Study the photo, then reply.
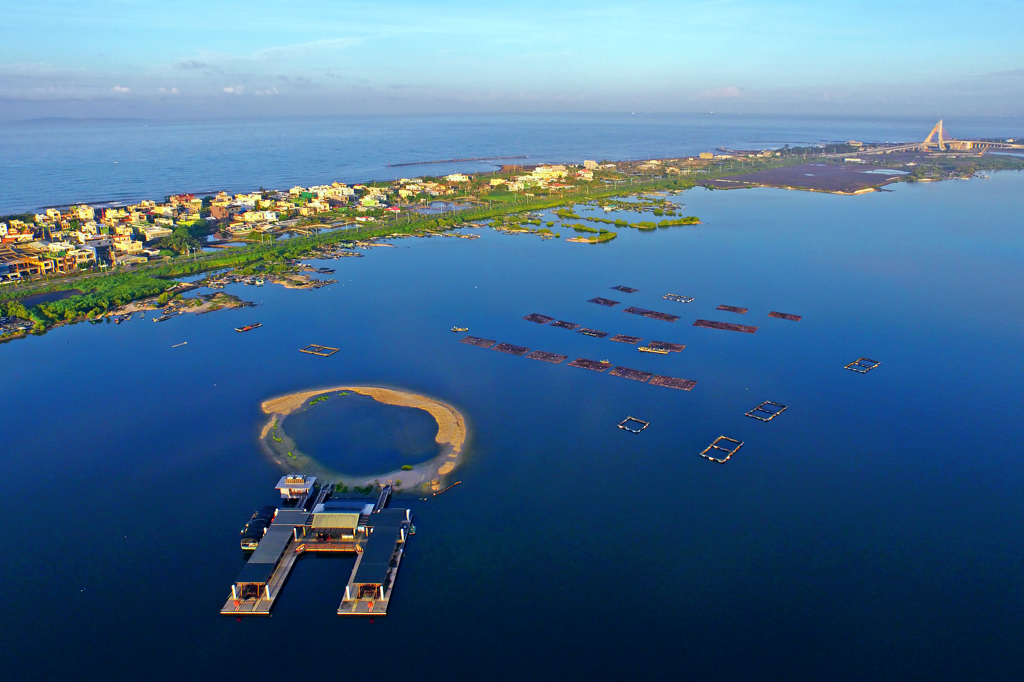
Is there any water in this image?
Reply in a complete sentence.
Yes, there is water in the image.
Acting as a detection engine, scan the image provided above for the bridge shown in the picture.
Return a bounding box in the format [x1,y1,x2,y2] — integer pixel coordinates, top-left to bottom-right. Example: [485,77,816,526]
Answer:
[822,120,1024,157]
